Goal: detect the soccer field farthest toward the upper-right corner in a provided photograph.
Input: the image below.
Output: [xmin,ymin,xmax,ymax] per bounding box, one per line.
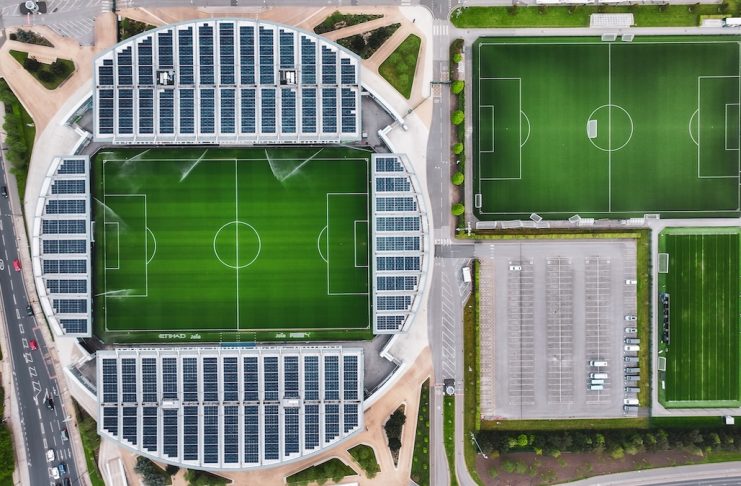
[473,36,741,220]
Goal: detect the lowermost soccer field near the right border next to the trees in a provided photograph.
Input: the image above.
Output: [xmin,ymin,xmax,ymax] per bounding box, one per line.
[659,226,741,409]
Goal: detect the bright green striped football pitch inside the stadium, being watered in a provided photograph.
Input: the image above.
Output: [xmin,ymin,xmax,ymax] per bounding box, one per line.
[91,145,373,345]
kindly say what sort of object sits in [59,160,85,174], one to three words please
solar array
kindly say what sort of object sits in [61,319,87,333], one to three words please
solar array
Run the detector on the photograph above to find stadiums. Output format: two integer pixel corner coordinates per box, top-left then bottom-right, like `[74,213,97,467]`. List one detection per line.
[27,17,432,471]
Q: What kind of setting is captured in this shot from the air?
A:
sports ground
